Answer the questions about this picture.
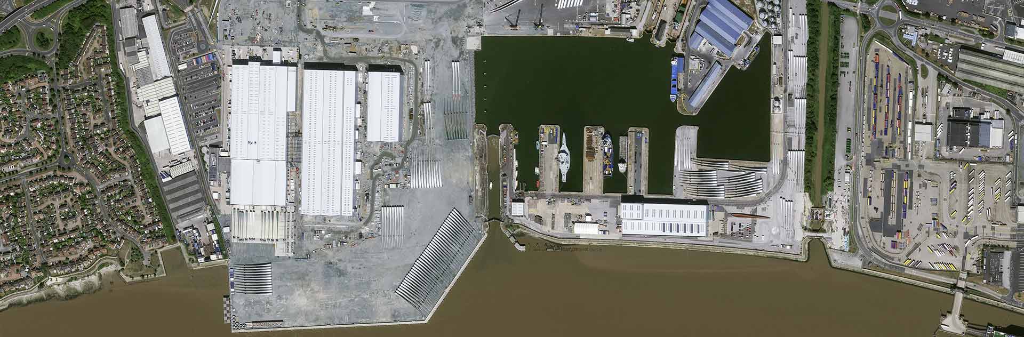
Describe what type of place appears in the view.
port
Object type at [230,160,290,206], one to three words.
building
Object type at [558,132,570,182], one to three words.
ship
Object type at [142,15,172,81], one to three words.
building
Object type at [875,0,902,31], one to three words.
roundabout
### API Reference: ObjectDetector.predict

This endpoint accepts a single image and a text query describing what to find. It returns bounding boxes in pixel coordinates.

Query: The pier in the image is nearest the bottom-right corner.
[934,271,990,337]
